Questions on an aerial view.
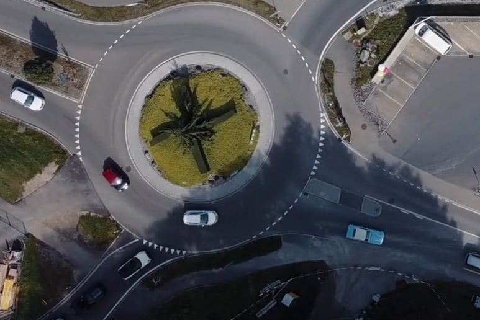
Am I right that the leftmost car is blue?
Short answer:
No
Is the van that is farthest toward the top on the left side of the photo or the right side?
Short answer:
right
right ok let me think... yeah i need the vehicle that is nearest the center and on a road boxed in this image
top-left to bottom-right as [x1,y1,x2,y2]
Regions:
[183,209,219,227]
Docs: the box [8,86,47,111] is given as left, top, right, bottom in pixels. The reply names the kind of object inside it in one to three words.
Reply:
car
